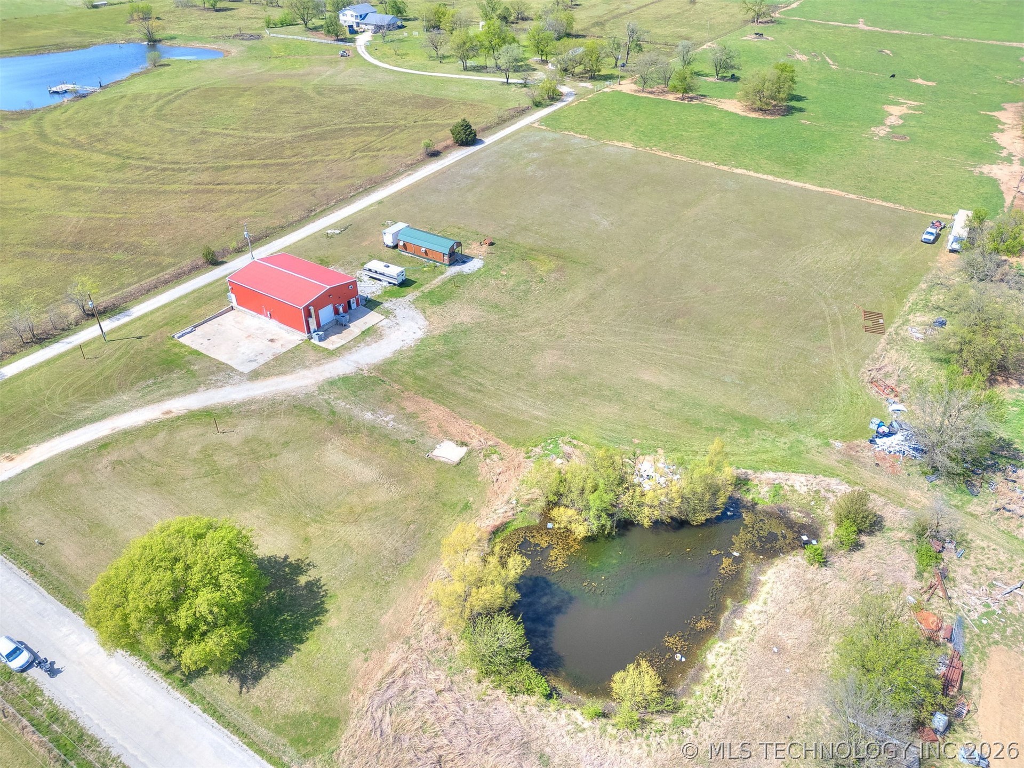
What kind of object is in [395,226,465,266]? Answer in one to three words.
building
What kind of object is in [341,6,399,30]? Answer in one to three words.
house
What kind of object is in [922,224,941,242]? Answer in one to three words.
vehicle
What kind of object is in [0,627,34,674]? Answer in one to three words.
car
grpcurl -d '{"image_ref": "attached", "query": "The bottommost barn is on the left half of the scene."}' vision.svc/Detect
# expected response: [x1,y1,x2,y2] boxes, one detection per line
[220,253,364,337]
